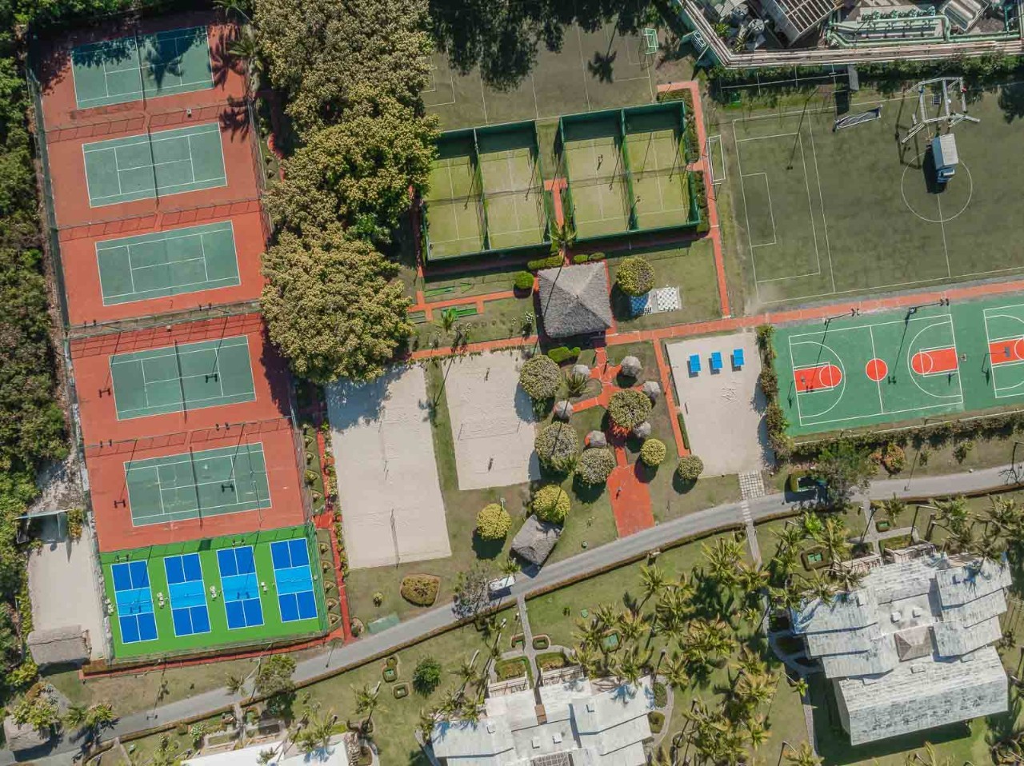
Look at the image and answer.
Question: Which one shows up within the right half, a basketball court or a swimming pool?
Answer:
basketball court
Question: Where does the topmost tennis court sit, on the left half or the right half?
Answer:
left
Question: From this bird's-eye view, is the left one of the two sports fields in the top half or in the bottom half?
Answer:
top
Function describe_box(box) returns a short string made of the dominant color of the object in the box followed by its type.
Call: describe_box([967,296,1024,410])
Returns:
green basketball court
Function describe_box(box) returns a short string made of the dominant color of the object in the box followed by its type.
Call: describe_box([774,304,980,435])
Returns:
green basketball court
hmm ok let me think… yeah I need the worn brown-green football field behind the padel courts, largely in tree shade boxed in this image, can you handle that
[404,0,694,137]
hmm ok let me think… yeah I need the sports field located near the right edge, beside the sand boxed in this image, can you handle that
[720,68,1024,314]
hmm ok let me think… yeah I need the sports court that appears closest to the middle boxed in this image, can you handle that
[443,350,541,490]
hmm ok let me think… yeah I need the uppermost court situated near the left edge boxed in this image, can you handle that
[30,12,253,131]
